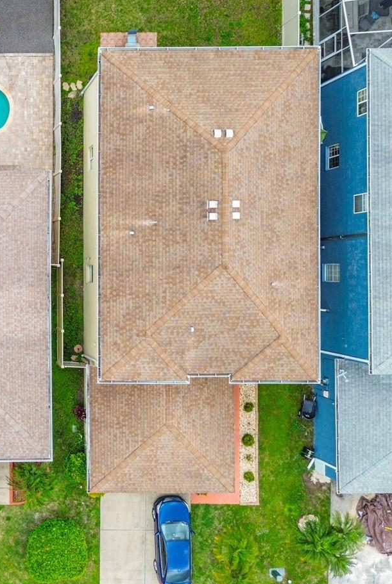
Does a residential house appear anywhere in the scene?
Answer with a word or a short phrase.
Yes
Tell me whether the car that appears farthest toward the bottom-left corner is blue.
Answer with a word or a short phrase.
Yes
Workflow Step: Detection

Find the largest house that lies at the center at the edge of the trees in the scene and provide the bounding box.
[73,48,319,495]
